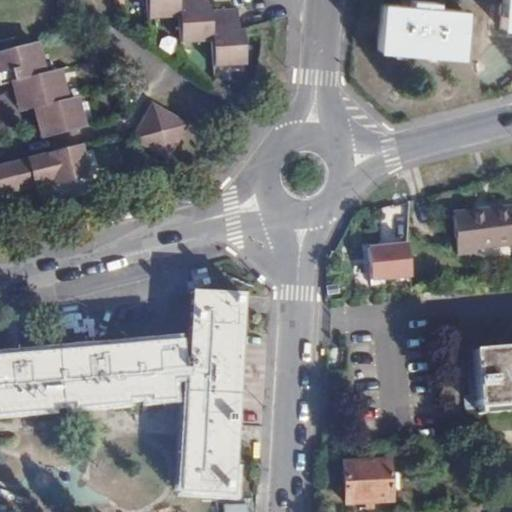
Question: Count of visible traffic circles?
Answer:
1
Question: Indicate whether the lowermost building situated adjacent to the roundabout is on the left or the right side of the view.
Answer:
left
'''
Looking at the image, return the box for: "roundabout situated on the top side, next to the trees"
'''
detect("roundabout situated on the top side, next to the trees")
[226,100,378,272]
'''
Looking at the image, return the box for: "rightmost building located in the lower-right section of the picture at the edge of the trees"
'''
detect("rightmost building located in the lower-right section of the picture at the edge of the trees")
[470,334,512,414]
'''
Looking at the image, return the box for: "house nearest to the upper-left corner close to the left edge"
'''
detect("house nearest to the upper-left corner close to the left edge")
[0,41,55,83]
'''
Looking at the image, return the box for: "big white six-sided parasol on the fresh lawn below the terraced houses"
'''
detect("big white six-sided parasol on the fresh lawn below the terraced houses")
[159,35,176,54]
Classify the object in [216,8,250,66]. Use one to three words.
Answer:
house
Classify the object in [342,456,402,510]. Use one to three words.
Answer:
house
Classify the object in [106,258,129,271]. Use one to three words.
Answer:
vehicle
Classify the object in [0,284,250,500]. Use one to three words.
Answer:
building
